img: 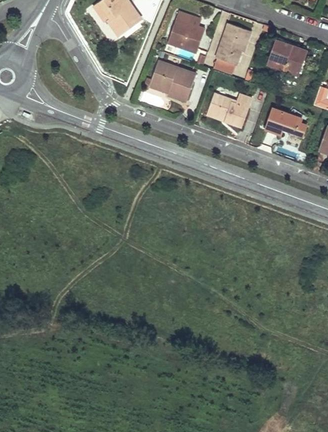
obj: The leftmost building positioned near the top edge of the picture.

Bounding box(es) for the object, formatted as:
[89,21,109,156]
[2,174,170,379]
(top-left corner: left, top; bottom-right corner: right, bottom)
[94,0,142,36]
